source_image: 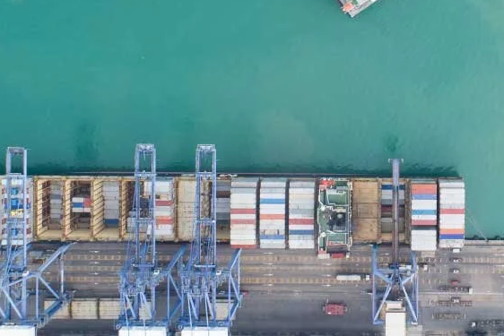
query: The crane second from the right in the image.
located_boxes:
[176,146,251,336]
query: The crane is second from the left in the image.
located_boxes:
[114,146,193,336]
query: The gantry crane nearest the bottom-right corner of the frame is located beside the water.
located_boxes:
[371,154,422,336]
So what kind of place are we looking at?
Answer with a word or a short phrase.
port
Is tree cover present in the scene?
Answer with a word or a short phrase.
No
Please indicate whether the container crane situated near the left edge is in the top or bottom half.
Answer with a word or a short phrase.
bottom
